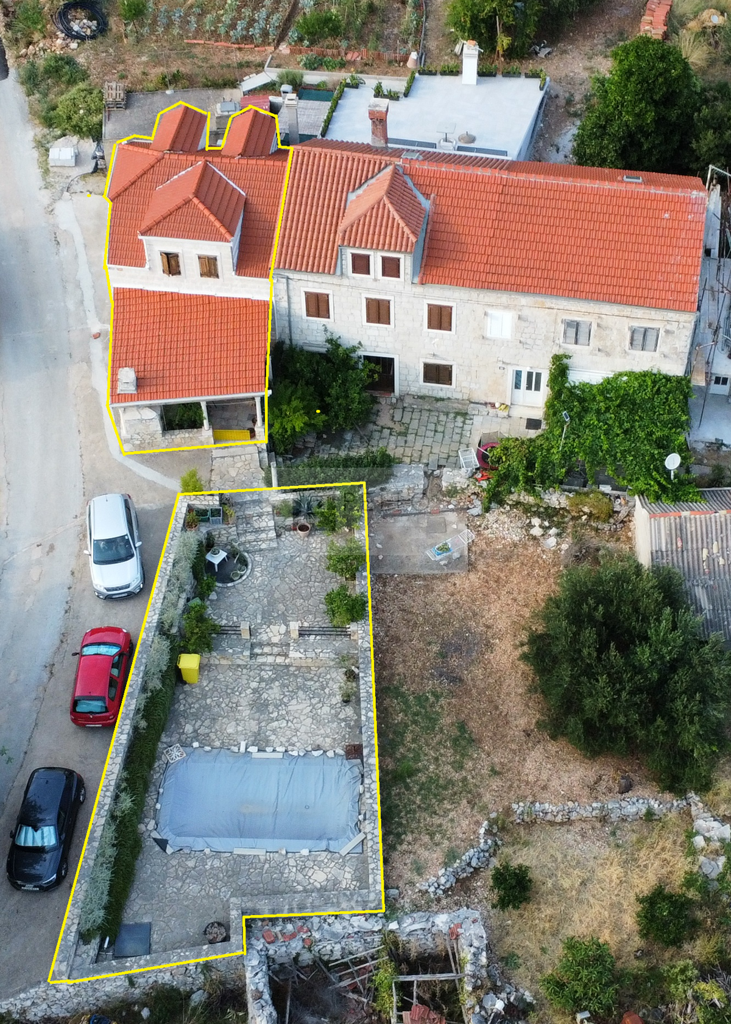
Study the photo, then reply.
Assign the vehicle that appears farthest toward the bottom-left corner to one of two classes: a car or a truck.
car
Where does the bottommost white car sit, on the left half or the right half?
left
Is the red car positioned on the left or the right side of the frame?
left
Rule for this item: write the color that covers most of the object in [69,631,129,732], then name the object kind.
red car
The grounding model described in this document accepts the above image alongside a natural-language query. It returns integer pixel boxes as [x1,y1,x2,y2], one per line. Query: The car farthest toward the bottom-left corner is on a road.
[2,769,81,897]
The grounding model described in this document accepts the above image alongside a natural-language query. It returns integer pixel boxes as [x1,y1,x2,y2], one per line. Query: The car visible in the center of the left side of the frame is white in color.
[84,497,146,604]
